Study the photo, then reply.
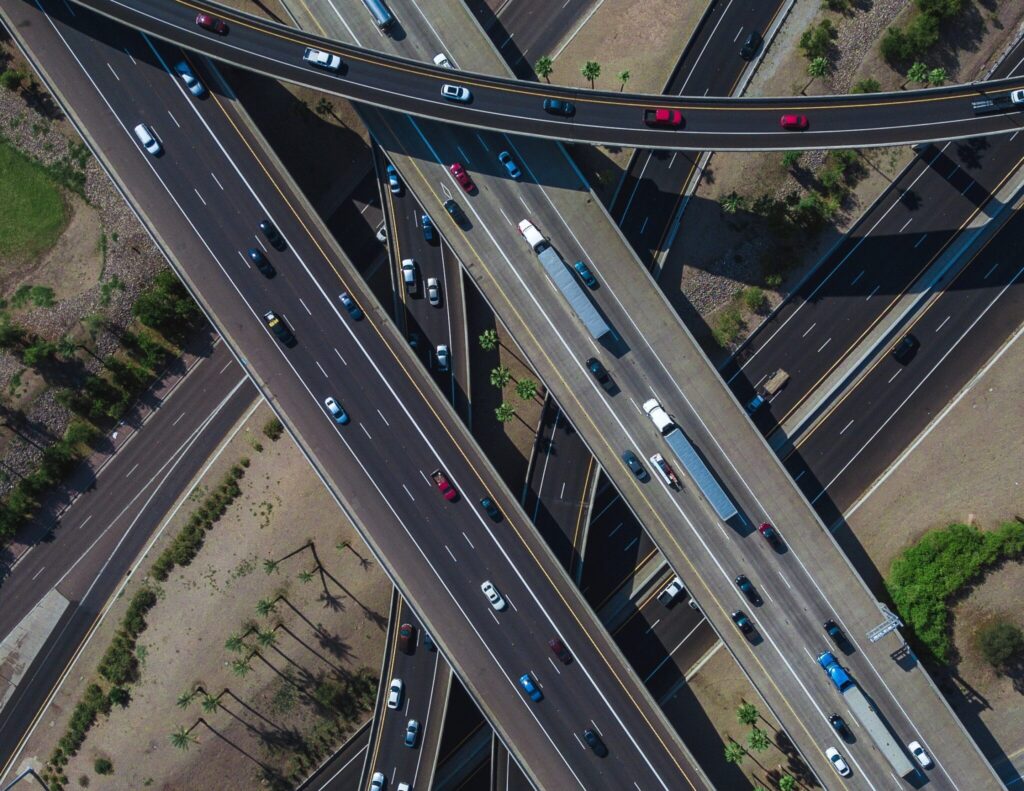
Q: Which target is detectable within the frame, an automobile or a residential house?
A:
automobile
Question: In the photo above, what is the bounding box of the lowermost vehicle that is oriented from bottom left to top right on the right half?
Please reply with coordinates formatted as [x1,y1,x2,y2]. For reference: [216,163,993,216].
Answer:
[655,577,683,606]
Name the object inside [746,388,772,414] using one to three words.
truck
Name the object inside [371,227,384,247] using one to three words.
vehicle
